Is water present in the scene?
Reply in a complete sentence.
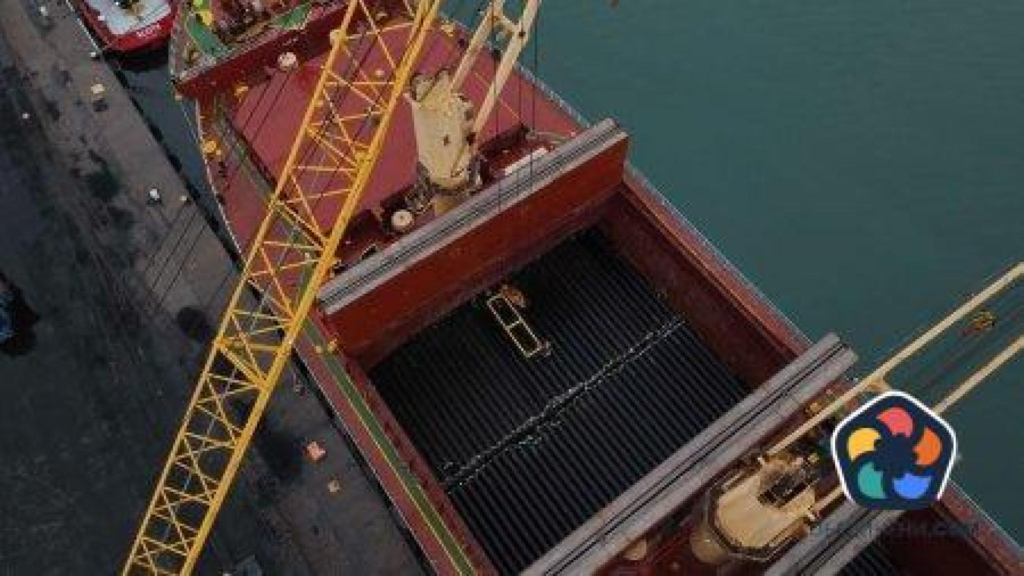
Yes, there is water in the image.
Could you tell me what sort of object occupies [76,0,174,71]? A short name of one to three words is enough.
boat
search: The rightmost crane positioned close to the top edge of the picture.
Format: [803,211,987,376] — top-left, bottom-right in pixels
[401,0,548,218]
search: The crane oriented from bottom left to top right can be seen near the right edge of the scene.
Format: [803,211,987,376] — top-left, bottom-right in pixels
[681,259,1024,564]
